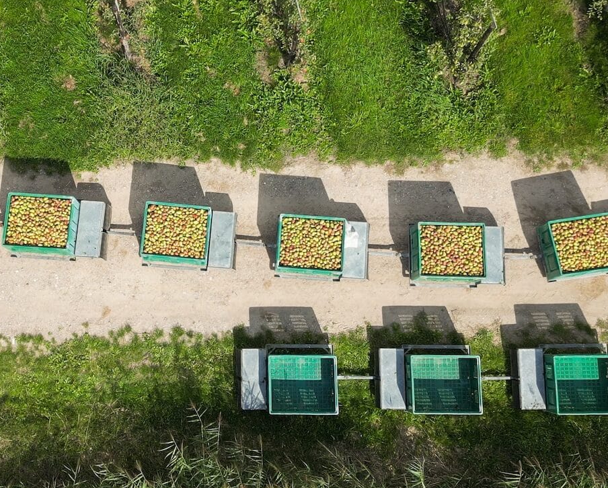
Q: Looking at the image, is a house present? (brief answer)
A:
No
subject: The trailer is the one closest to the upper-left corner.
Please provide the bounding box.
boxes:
[0,199,114,262]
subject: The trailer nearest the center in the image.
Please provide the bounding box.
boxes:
[237,215,372,282]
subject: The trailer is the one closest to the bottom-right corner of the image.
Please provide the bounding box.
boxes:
[504,345,608,412]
